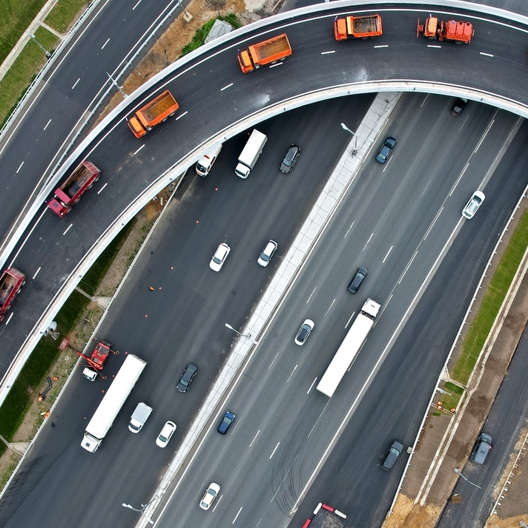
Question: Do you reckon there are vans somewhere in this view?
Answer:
Yes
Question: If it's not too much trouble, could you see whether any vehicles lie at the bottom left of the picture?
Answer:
Yes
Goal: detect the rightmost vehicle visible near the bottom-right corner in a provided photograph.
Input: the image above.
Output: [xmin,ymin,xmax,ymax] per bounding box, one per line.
[469,431,492,464]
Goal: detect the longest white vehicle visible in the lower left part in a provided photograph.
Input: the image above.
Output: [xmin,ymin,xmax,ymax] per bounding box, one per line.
[78,353,149,454]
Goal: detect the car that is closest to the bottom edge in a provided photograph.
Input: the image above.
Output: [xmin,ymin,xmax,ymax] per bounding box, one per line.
[198,482,221,512]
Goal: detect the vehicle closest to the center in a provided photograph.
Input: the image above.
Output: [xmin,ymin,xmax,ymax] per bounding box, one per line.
[257,237,279,267]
